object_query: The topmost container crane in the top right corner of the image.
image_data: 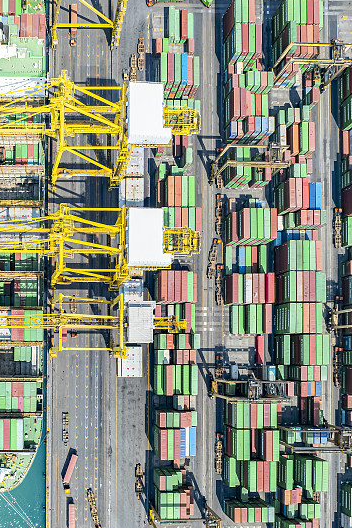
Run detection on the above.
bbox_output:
[270,39,352,87]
